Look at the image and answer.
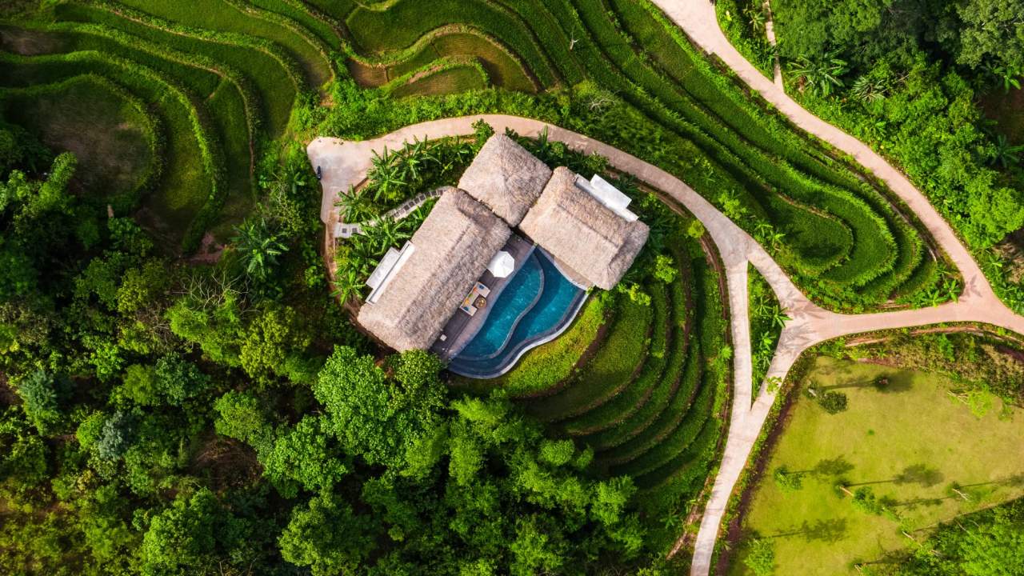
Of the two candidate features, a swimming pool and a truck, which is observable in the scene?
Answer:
swimming pool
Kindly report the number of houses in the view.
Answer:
three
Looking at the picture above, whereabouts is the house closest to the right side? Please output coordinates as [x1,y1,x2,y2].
[519,167,648,289]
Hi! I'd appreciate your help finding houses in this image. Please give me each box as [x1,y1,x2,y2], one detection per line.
[362,192,508,356]
[457,132,553,228]
[519,167,648,289]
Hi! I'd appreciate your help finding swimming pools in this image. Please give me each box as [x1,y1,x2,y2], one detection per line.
[445,241,588,379]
